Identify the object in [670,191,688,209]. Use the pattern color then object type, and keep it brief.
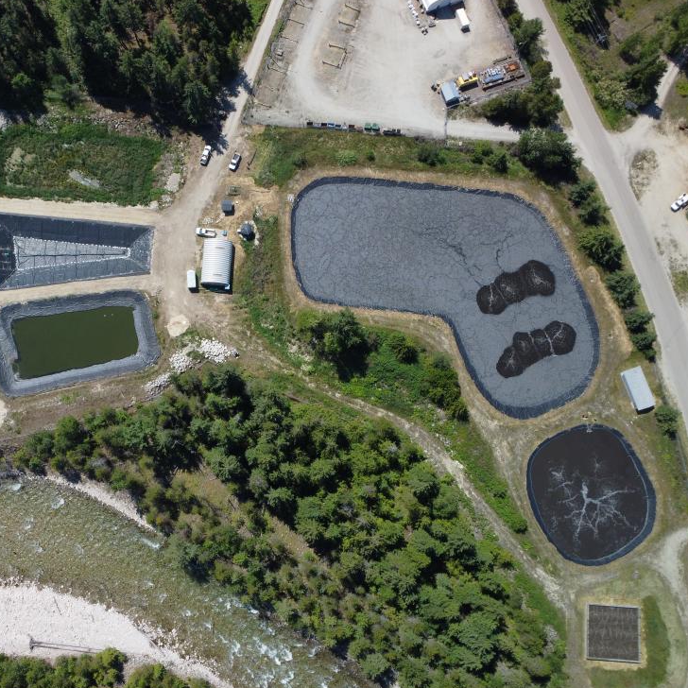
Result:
white vehicle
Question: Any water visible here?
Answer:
Yes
